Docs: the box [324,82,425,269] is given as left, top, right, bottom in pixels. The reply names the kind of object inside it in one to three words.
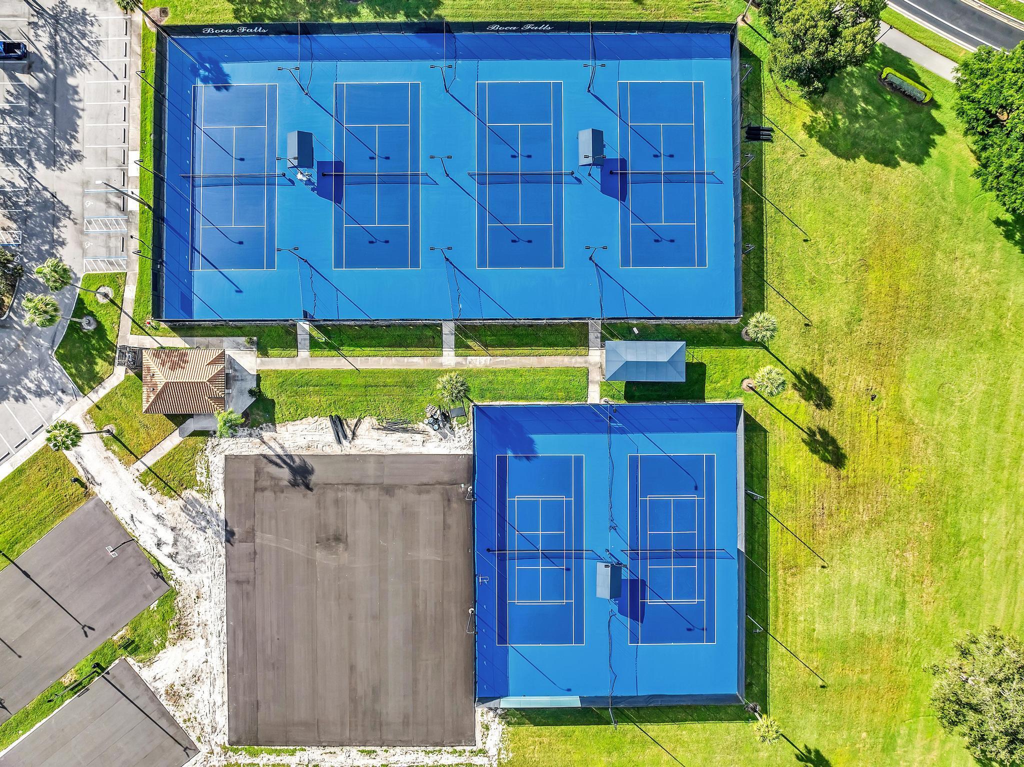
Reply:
tennis court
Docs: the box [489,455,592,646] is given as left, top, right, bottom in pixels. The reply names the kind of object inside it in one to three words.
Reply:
tennis court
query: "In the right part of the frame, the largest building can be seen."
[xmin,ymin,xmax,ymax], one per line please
[605,341,686,382]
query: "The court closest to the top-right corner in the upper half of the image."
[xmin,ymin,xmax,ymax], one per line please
[613,81,715,268]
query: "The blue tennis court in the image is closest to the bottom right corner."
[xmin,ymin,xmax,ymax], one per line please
[623,454,726,645]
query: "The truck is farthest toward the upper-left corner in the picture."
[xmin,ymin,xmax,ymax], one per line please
[0,40,28,61]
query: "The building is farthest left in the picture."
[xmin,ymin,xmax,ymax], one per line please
[142,349,235,414]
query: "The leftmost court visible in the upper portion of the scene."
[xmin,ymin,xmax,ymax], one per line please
[177,84,283,270]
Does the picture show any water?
No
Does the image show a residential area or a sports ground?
sports ground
